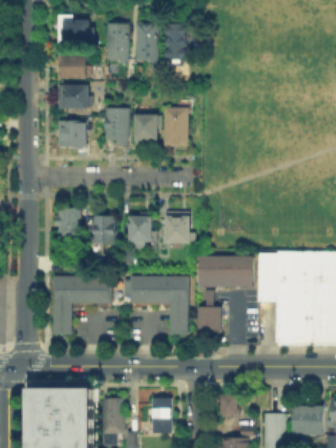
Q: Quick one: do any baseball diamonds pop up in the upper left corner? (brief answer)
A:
No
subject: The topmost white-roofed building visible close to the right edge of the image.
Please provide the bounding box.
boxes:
[260,251,336,346]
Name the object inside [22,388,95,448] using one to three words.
building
